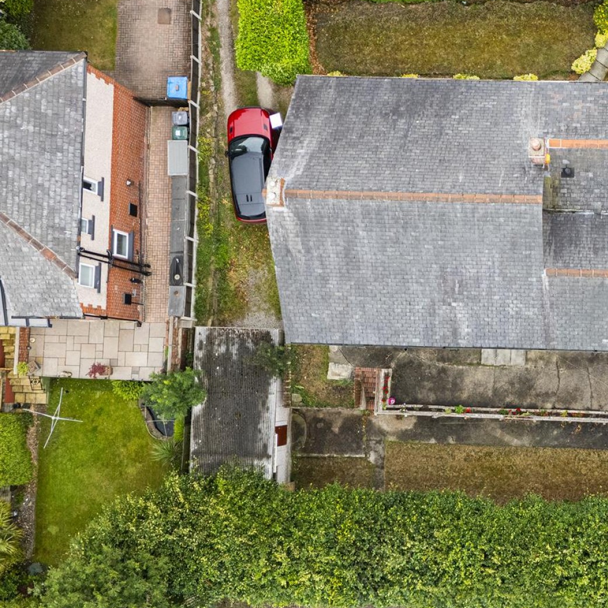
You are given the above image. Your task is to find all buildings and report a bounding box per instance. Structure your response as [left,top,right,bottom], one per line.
[262,74,608,352]
[0,49,149,326]
[188,326,295,482]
